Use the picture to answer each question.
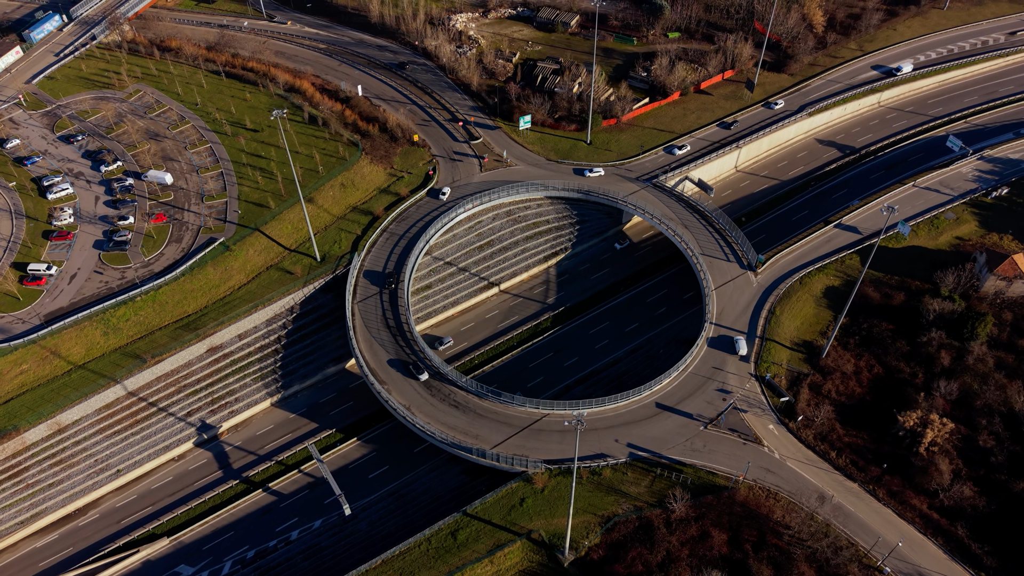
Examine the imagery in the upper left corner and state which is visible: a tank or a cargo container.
cargo container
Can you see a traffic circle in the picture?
Yes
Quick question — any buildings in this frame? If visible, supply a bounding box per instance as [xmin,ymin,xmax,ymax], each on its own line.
[0,42,23,73]
[979,243,1024,295]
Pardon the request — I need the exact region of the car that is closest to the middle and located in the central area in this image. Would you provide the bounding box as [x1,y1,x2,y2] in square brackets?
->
[431,334,456,352]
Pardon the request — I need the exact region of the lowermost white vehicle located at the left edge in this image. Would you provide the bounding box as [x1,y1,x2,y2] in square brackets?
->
[23,260,57,276]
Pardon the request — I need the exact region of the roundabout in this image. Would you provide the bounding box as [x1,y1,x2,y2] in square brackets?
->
[346,159,770,473]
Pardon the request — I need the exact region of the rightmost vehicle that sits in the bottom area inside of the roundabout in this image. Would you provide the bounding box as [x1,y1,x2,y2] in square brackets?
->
[733,336,750,359]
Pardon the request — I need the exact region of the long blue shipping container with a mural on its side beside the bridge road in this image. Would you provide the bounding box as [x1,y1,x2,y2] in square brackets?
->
[22,13,63,44]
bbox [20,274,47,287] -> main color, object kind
red vehicle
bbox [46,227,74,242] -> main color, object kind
red car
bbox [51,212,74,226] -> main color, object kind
white car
